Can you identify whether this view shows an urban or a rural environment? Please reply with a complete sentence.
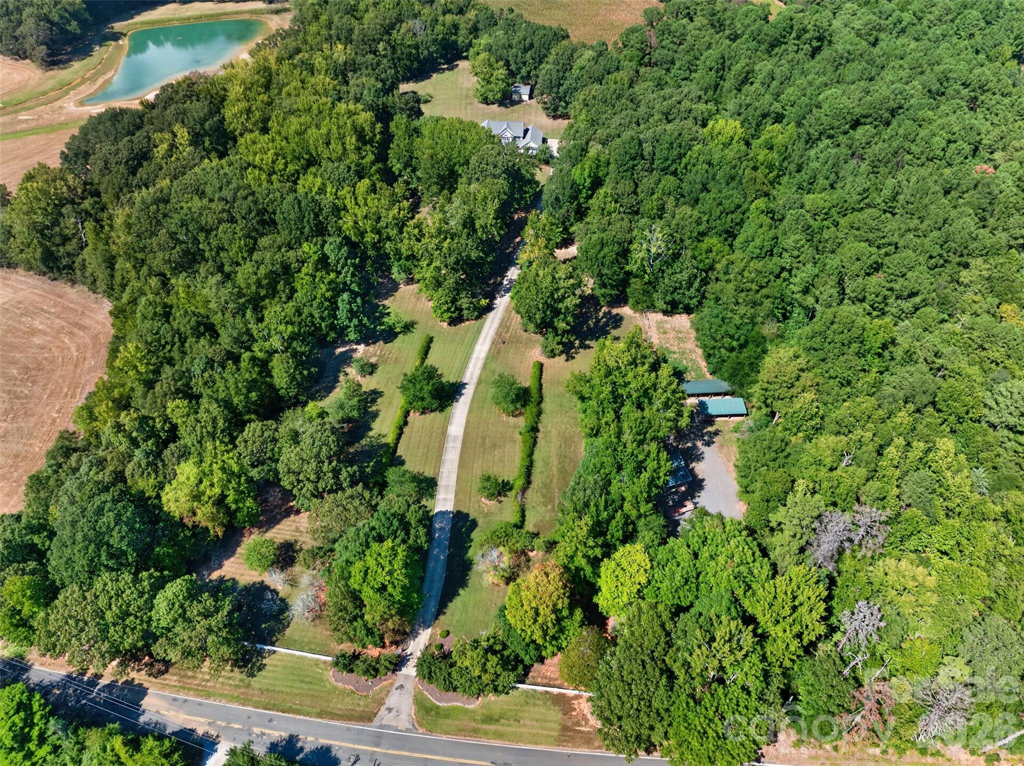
The area shown here is rural.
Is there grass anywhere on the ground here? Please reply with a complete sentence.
Yes, grass can be seen from above here.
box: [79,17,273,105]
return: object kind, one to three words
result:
pond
